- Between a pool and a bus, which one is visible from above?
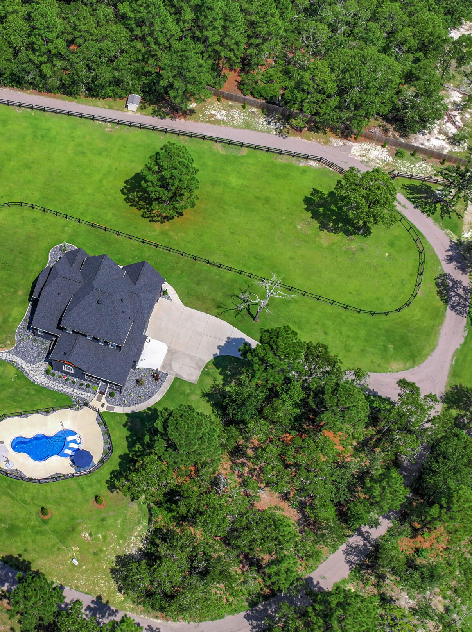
pool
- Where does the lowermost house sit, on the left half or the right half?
left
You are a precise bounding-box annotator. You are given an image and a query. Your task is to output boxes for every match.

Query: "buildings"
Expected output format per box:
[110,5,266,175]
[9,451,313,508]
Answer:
[31,247,166,395]
[126,89,141,112]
